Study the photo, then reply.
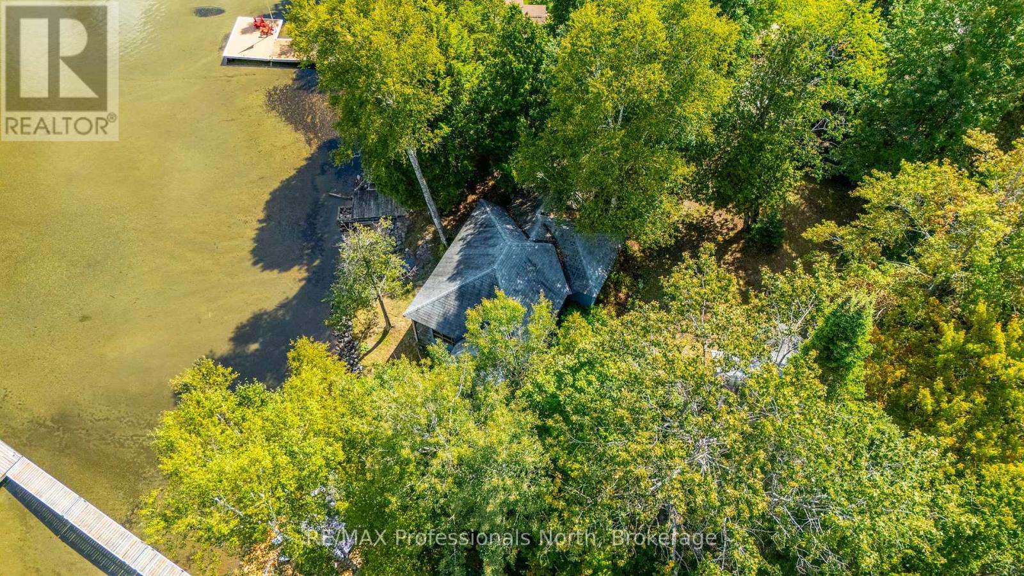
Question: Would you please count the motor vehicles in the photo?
0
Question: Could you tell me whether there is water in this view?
Yes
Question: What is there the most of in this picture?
trees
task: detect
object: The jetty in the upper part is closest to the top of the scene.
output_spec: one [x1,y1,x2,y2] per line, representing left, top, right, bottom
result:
[211,14,318,71]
